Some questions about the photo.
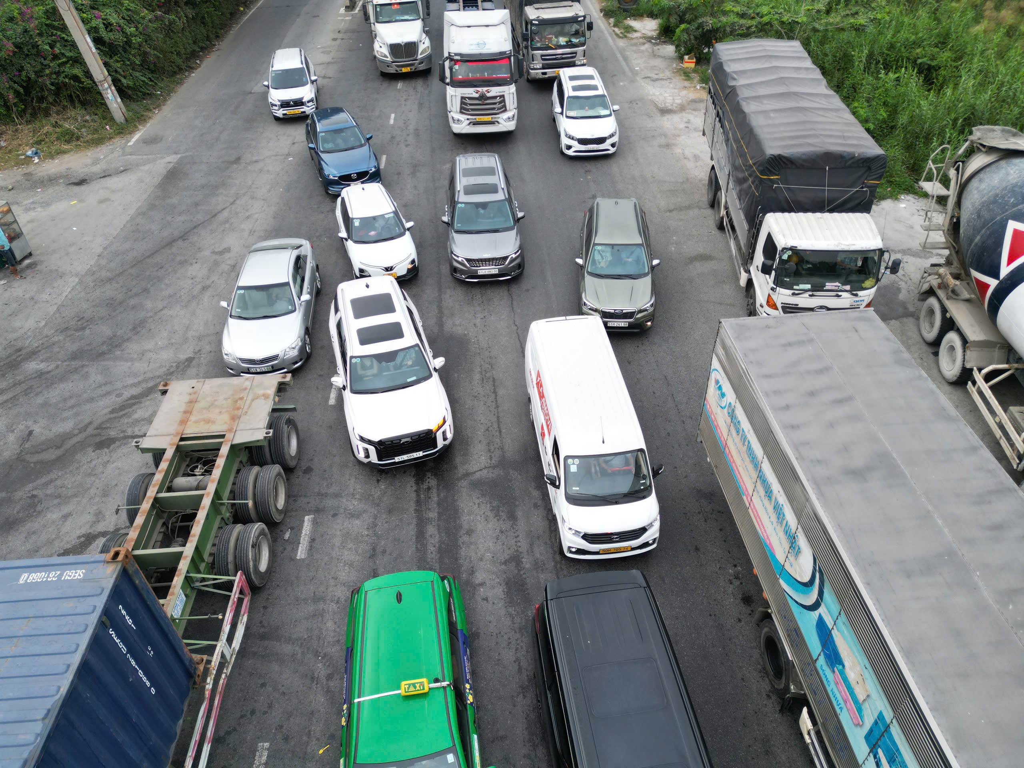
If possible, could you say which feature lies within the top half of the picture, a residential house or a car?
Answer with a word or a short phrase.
car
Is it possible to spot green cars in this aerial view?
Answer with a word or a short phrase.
Yes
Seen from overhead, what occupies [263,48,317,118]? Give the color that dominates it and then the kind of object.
white car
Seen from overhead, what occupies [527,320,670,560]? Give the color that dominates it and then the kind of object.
white van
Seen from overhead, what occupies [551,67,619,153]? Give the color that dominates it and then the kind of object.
white car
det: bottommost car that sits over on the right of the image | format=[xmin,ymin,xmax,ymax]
[529,572,719,768]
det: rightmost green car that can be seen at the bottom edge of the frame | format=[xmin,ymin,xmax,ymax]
[338,573,482,768]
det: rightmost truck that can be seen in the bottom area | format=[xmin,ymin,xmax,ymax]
[692,308,1024,768]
